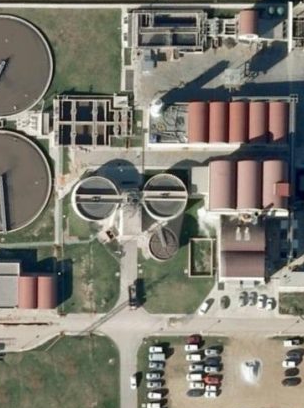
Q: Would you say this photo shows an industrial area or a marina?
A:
industrial area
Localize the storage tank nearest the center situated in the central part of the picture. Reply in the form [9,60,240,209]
[138,175,188,222]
